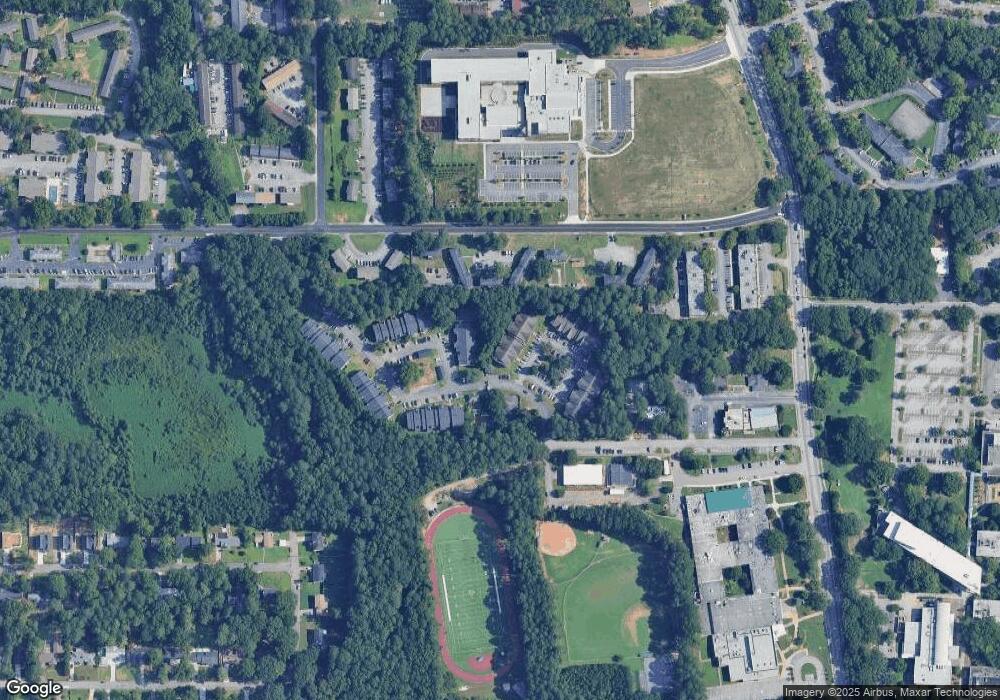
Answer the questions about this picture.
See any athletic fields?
Yes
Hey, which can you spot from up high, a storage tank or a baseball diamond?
baseball diamond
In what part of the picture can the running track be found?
bottom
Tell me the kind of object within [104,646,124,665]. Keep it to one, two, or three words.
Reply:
house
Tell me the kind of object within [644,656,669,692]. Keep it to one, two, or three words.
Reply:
sports court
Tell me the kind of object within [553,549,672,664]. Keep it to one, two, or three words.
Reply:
baseball field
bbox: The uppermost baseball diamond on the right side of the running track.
[537,520,646,583]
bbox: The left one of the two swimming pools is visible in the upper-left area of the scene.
[47,178,62,204]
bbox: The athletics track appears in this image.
[425,502,519,683]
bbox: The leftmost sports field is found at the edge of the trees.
[433,511,510,675]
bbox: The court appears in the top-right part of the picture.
[890,99,934,139]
